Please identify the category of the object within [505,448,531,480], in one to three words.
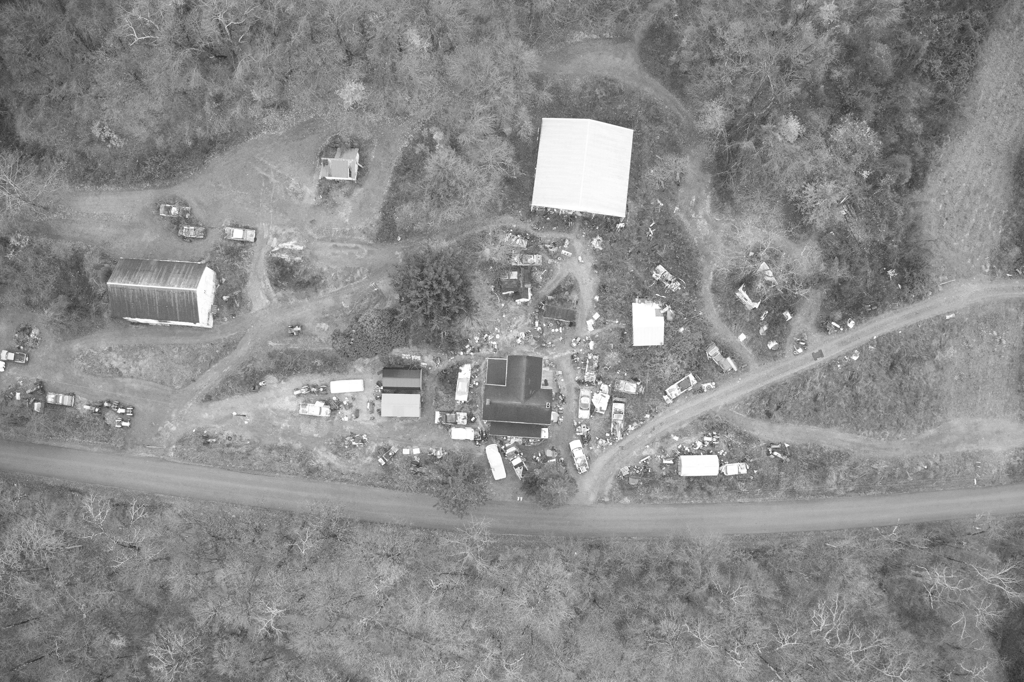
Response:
truck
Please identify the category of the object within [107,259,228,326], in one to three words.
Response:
barn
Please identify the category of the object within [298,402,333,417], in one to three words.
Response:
vehicle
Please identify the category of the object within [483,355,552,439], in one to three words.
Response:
house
